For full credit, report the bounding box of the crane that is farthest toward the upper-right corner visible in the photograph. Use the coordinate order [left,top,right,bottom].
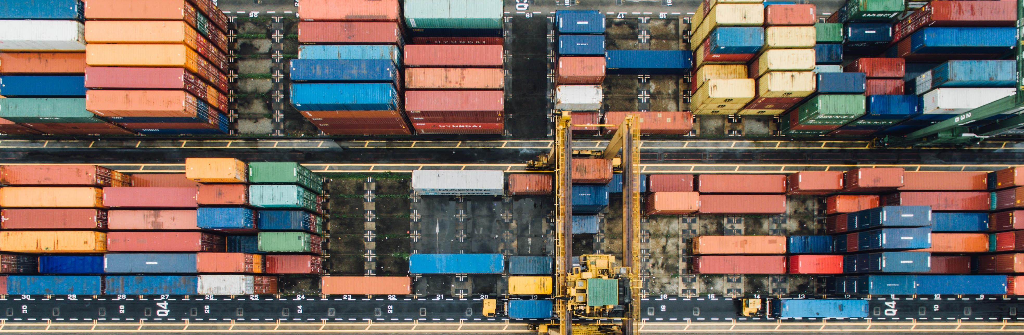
[869,0,1024,148]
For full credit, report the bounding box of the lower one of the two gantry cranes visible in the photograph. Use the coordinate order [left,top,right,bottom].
[525,110,642,335]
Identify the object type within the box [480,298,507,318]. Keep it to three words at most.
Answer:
work vehicle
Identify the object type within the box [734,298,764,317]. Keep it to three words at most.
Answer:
work vehicle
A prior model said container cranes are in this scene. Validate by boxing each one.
[869,0,1024,148]
[525,110,642,335]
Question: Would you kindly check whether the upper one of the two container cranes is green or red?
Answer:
green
